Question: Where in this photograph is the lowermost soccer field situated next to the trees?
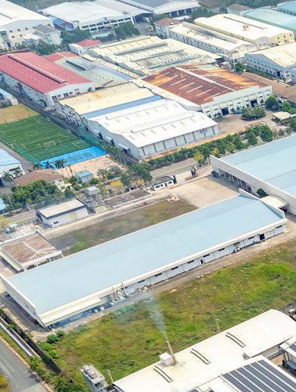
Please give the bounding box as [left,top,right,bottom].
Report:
[0,114,92,160]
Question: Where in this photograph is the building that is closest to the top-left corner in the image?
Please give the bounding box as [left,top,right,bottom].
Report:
[0,9,54,45]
